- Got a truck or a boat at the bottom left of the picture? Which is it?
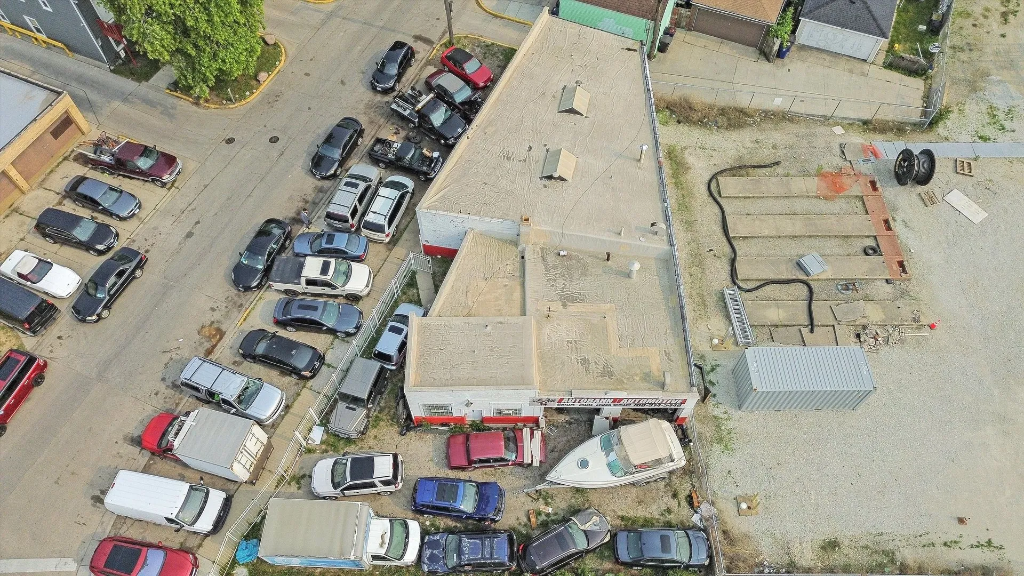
truck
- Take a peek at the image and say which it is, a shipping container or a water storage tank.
shipping container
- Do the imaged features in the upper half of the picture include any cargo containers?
No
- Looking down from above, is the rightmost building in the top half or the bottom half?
top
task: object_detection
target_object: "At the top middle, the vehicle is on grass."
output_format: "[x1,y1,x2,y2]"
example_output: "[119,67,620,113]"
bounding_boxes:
[440,47,494,92]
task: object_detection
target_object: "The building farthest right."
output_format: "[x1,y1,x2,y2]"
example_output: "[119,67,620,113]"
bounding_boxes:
[796,0,897,63]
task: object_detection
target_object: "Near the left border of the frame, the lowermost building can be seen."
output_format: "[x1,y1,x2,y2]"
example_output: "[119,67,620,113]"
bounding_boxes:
[0,68,90,211]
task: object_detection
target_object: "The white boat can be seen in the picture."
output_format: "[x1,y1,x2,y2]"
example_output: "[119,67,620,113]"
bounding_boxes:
[545,421,706,492]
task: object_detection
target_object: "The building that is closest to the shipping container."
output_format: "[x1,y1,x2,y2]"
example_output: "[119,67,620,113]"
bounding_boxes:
[405,0,703,432]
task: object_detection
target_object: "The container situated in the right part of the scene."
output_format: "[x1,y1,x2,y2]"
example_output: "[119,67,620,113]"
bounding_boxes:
[732,347,876,412]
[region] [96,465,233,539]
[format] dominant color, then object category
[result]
white van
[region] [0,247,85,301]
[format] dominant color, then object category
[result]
white car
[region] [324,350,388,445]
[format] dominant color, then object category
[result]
gray car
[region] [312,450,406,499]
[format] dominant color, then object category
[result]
white car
